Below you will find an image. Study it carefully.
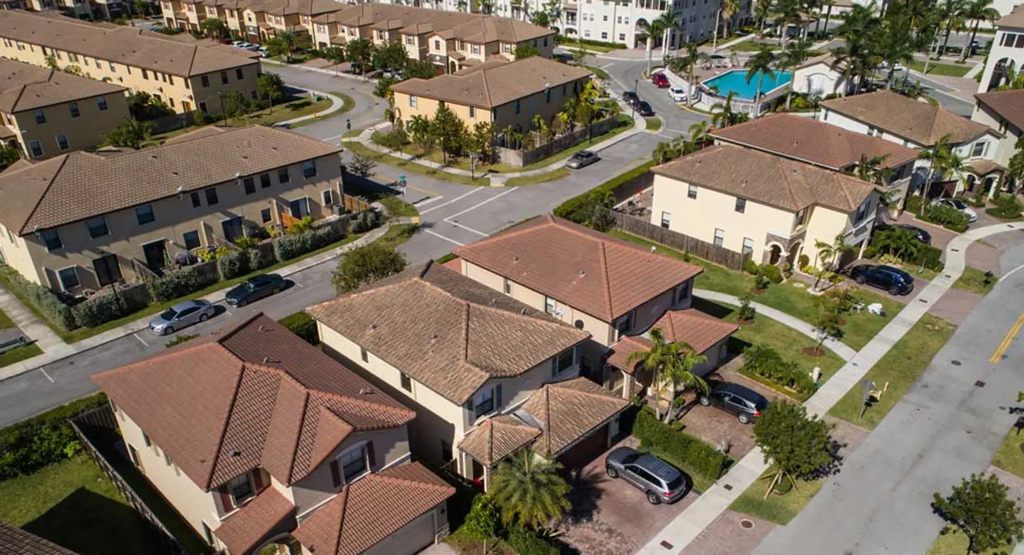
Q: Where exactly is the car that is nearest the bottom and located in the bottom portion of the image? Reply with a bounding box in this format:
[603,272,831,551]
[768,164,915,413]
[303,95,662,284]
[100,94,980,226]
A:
[600,446,688,505]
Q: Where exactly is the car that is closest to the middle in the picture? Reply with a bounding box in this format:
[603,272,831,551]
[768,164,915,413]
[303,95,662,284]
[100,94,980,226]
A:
[564,147,601,166]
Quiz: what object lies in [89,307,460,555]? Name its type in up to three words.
house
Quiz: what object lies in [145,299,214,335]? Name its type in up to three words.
car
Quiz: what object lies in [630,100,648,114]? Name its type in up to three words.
car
